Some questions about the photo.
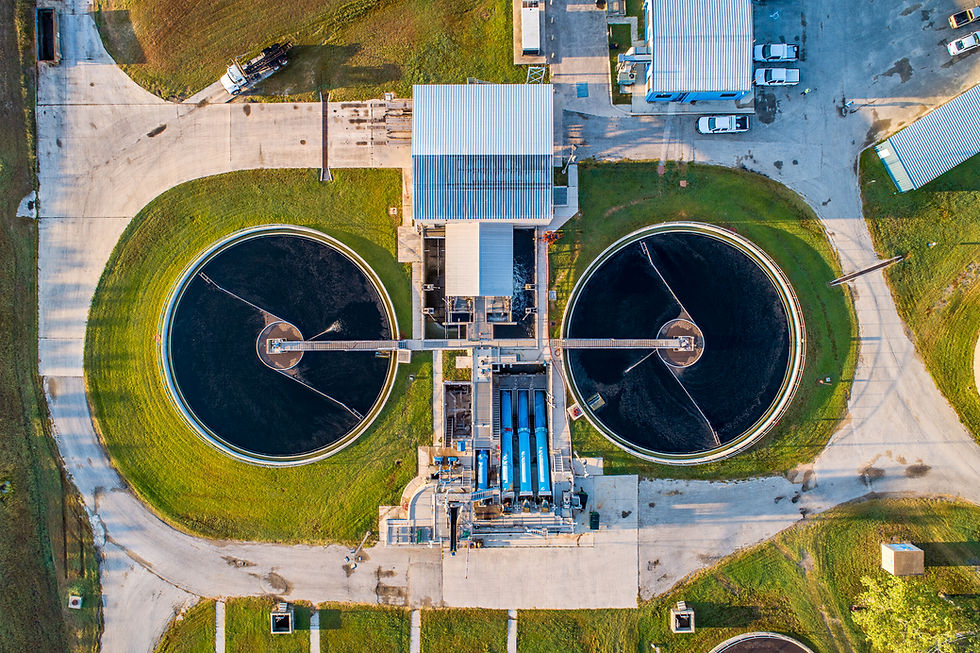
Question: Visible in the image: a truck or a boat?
truck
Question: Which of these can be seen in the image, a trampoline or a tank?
tank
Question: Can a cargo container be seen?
Yes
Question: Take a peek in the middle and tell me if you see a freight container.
No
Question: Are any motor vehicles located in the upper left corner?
Yes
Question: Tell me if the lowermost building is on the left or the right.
right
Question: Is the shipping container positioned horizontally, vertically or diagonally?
vertically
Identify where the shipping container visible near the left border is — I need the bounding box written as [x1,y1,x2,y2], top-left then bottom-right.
[36,8,65,65]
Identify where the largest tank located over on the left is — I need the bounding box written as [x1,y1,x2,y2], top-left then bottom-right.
[160,225,402,466]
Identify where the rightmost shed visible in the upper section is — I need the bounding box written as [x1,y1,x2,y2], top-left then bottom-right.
[872,86,980,193]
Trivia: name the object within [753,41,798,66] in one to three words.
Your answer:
truck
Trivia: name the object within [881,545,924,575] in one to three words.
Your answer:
building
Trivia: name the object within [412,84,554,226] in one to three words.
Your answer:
building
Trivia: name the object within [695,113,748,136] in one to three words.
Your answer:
truck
